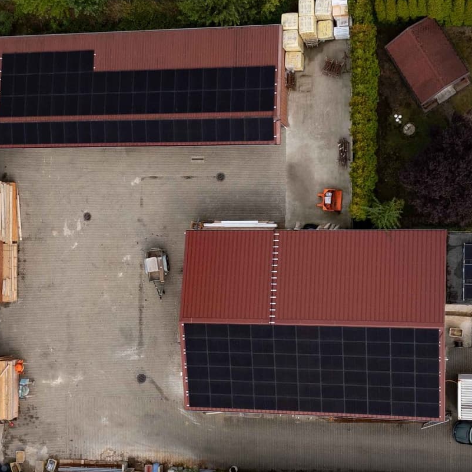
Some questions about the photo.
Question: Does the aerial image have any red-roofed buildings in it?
Yes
